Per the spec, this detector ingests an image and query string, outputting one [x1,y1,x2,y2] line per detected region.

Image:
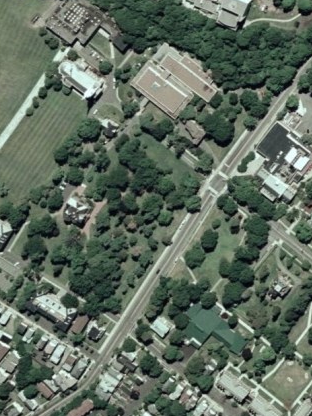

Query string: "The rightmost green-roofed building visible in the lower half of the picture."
[183,304,248,355]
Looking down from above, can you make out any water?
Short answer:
No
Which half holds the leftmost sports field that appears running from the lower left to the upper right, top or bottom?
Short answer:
top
